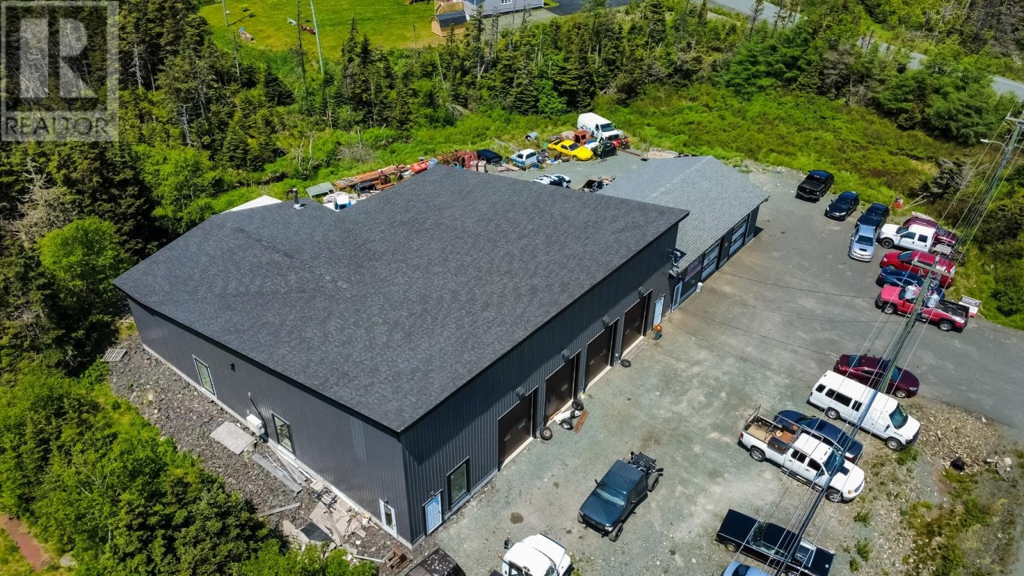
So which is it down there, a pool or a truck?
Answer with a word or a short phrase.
truck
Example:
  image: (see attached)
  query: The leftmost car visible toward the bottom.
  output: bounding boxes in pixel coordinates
[415,553,470,576]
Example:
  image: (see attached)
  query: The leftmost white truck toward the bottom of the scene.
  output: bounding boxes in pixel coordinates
[487,538,575,576]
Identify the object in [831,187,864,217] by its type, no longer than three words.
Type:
car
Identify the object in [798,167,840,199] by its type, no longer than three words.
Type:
truck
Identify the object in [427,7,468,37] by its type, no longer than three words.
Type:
shed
